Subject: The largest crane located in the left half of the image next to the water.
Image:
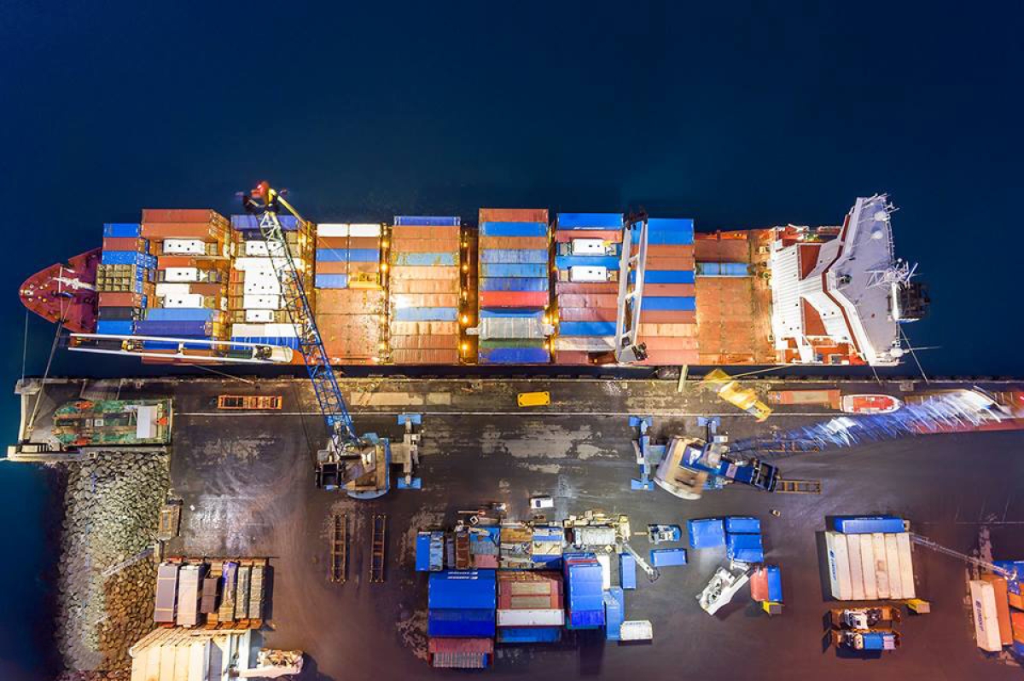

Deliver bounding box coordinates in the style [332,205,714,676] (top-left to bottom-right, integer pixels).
[231,179,422,502]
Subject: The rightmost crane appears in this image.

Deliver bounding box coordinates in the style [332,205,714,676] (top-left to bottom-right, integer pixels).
[901,530,1024,592]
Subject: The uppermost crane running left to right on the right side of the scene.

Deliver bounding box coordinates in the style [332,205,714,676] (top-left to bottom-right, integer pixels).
[628,383,1002,493]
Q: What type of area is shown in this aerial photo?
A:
port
